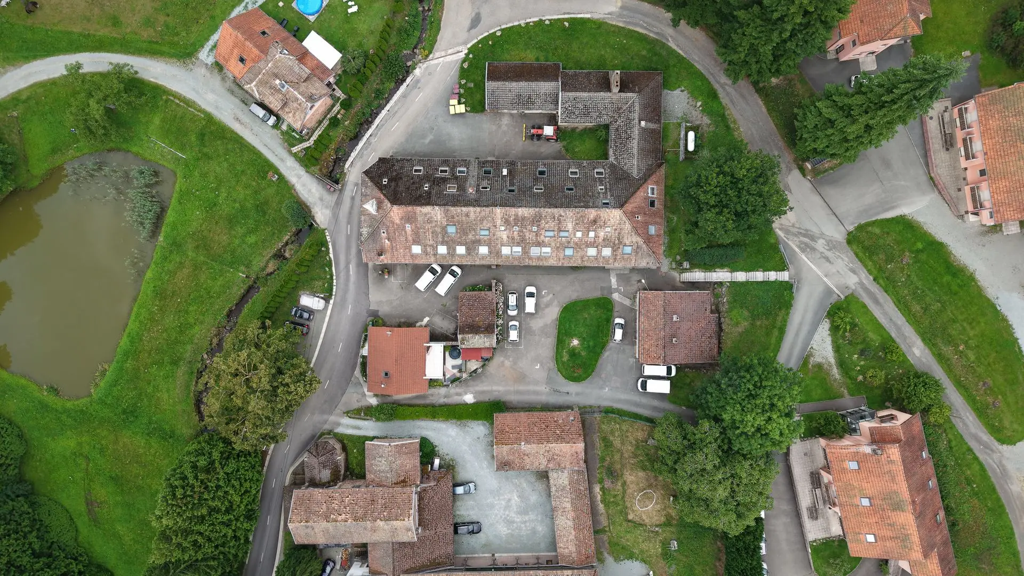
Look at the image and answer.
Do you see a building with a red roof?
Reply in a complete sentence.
Yes, a building with a red roof can be made out from above.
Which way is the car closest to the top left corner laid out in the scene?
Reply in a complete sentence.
Seen from above, the car closest to the top left corner lies diagonally.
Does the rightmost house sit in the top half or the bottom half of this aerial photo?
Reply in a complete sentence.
The top half of the photo is where the rightmost house is.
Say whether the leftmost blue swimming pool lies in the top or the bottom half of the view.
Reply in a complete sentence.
The leftmost blue swimming pool sits in the top half of the picture.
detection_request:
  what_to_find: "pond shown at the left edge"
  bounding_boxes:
[0,149,179,398]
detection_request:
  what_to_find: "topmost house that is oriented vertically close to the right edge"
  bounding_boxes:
[953,75,1024,225]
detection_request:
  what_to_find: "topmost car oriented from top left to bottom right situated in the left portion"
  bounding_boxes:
[250,103,276,125]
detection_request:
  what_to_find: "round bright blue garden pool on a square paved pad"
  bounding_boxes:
[292,0,329,22]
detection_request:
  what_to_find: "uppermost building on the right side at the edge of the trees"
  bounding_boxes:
[824,0,932,56]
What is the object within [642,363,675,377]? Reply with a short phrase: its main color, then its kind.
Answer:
white vehicle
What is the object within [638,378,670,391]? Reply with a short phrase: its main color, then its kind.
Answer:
white vehicle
